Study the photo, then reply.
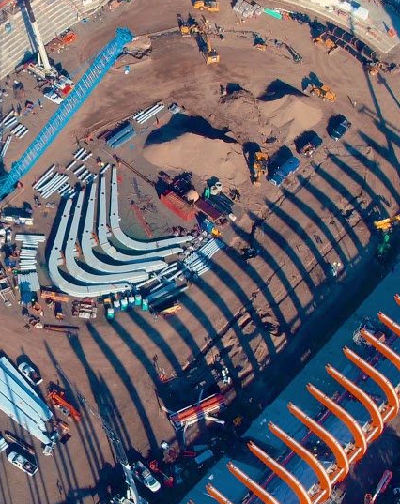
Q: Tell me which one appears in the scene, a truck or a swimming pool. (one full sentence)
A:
This aerial view contains a truck.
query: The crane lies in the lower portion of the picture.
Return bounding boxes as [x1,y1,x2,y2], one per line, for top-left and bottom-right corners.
[54,368,177,504]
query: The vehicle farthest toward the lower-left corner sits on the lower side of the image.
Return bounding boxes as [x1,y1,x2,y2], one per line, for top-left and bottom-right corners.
[5,449,38,477]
